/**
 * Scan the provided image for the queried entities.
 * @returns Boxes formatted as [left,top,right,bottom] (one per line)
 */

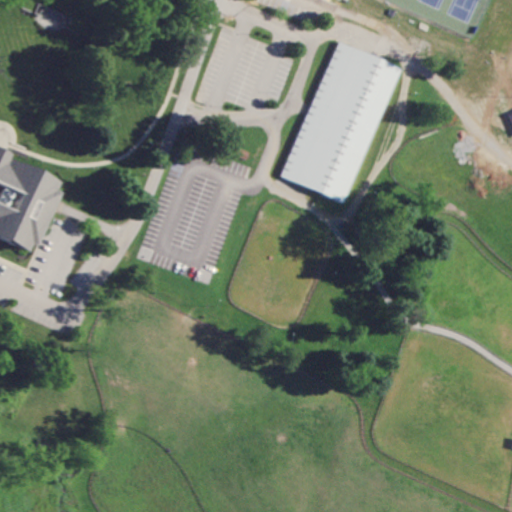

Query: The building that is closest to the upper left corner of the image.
[0,146,62,252]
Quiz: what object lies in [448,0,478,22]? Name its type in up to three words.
tennis court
